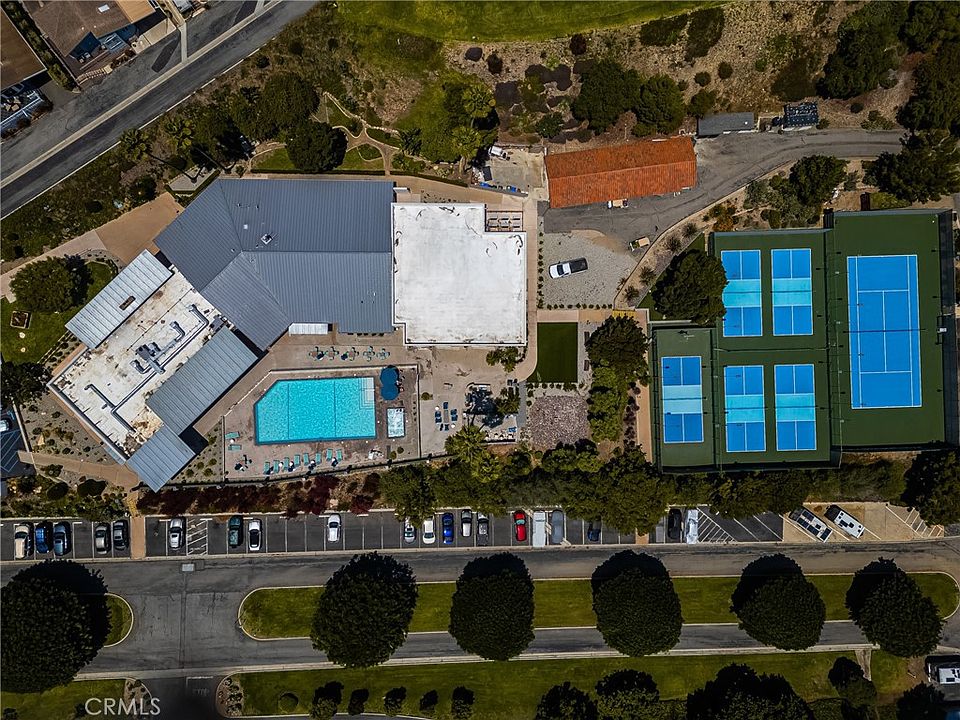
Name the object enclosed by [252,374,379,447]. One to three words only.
swimming pool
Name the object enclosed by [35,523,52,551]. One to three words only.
car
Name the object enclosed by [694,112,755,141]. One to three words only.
shed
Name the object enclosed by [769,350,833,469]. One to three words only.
sports court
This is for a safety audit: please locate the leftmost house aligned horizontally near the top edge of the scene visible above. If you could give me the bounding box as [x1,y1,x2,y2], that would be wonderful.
[25,0,165,64]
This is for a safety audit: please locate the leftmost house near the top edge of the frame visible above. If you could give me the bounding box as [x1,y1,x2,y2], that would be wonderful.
[0,3,56,126]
